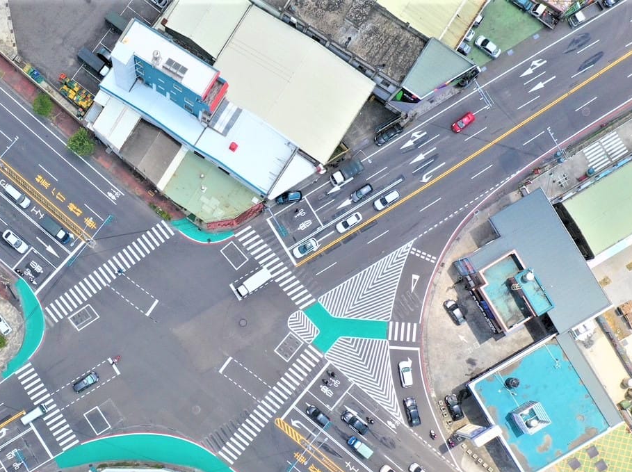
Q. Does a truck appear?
Yes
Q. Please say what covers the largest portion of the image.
paved ground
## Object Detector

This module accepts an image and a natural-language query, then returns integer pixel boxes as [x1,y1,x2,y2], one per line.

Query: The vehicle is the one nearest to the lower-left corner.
[19,401,55,428]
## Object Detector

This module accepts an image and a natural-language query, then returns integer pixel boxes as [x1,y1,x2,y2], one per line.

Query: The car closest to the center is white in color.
[290,236,320,259]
